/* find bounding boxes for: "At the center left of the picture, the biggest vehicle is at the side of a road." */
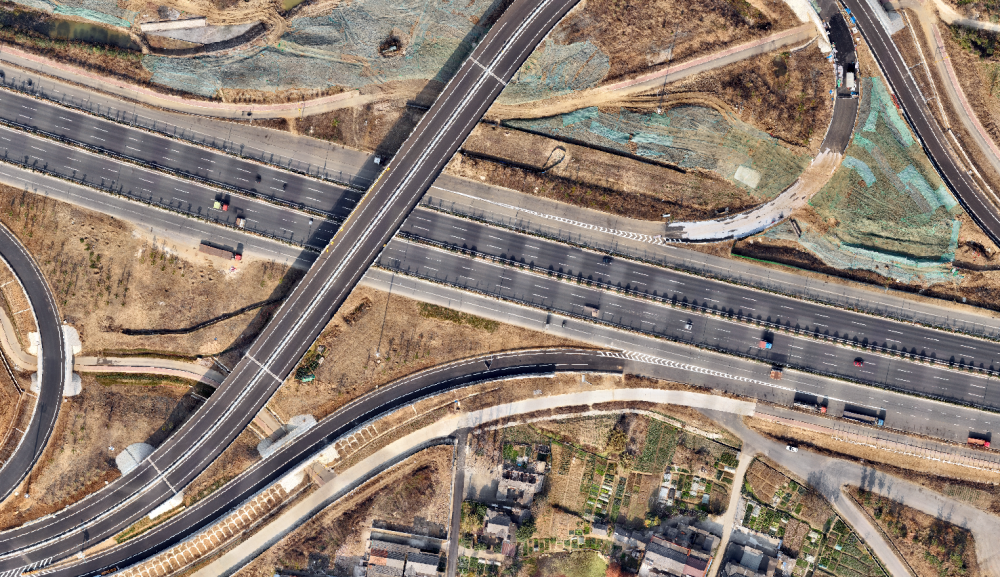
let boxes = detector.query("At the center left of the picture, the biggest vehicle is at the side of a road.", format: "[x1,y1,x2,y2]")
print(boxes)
[198,243,242,260]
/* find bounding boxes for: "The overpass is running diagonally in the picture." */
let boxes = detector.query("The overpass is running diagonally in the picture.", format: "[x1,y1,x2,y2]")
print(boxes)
[0,0,581,577]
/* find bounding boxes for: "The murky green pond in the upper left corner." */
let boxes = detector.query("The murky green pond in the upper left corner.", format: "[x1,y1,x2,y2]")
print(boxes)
[18,18,141,50]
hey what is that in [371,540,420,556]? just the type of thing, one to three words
shed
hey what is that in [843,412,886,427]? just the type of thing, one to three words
vehicle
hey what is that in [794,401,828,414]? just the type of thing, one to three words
vehicle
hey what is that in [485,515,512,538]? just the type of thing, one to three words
house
